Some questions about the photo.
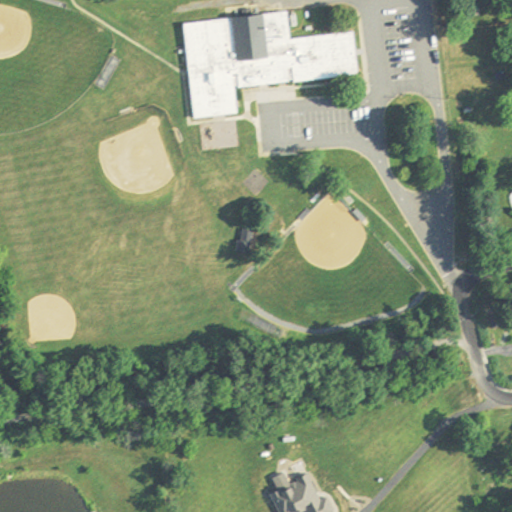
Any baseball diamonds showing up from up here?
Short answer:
Yes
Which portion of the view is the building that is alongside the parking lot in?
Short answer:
top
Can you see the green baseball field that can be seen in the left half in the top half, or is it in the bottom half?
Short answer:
top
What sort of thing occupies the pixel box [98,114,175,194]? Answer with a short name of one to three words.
baseball field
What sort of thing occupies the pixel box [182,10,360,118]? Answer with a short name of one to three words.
building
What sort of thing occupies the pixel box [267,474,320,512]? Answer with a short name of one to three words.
house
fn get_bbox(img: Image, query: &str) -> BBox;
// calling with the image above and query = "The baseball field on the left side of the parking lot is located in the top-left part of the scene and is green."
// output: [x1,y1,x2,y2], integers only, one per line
[0,0,114,132]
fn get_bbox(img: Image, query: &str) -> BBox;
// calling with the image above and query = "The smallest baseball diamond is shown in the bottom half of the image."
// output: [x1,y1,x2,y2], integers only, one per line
[26,293,76,344]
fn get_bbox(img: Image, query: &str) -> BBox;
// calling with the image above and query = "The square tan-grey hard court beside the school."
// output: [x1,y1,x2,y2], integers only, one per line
[200,122,238,150]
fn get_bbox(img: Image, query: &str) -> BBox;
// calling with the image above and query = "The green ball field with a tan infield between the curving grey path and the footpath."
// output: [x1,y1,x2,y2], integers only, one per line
[239,194,422,328]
